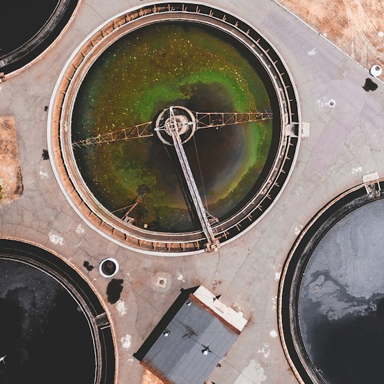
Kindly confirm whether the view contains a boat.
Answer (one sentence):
No, there's no boat here.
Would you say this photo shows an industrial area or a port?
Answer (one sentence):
The area seen from above is an industrial area.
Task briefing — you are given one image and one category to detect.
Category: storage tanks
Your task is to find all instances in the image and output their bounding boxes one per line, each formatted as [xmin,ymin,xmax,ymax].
[48,1,302,254]
[0,236,122,384]
[279,177,384,384]
[0,0,85,83]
